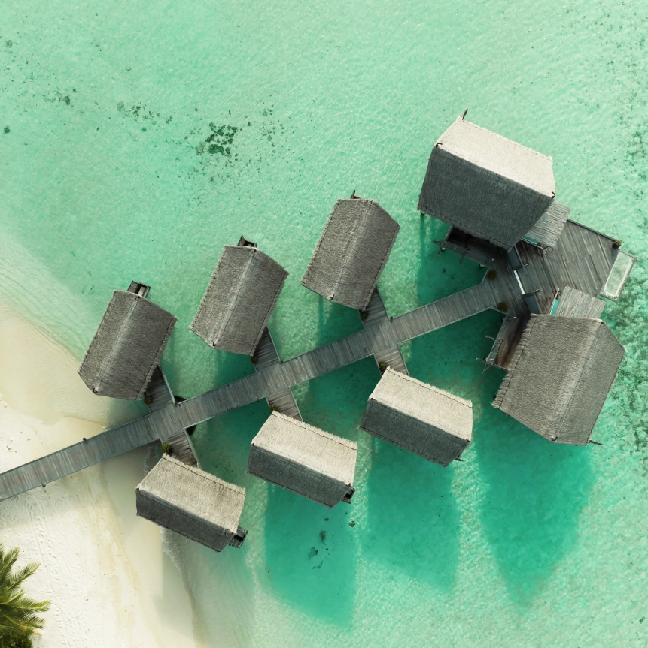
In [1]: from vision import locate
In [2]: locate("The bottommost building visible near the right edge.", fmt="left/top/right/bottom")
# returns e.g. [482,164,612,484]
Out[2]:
[474,313,624,444]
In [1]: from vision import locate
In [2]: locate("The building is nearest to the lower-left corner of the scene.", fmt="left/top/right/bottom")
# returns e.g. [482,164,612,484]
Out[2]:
[132,453,248,552]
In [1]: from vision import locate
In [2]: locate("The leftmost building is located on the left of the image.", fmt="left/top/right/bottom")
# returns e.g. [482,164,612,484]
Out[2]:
[78,281,177,400]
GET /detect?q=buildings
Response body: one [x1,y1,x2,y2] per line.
[132,453,248,552]
[190,237,289,356]
[363,366,475,465]
[78,281,177,400]
[301,190,401,307]
[418,108,561,267]
[474,313,624,444]
[248,410,358,508]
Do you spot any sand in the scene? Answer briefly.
Yes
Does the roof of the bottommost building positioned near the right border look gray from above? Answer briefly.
Yes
